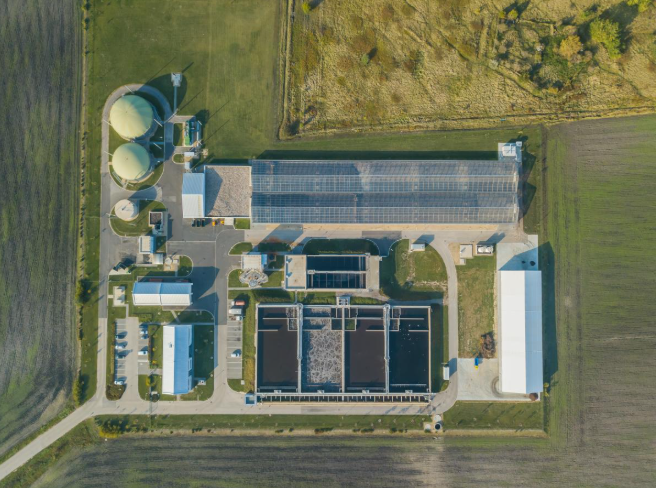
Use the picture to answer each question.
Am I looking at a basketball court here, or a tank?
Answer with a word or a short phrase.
tank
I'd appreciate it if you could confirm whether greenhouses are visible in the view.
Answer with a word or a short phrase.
Yes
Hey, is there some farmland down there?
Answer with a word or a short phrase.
Yes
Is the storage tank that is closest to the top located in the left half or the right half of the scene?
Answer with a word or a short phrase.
left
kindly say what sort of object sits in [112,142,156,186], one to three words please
storage tank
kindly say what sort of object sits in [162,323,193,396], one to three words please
building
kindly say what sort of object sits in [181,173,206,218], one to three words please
building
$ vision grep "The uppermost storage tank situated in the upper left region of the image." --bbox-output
[110,95,160,144]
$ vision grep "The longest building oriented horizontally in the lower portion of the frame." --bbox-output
[130,282,194,306]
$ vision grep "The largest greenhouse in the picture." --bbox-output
[251,159,521,224]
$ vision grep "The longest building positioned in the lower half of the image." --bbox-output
[498,271,543,394]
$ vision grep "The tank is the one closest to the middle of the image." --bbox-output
[284,254,382,290]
